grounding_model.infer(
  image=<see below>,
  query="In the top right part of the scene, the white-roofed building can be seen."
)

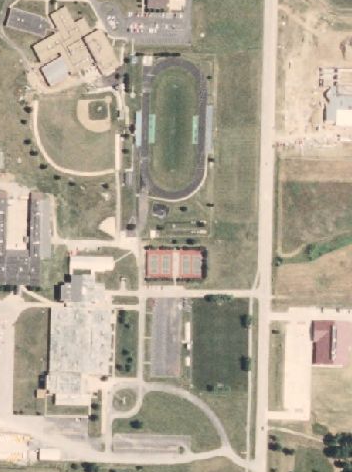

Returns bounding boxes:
[319,68,352,127]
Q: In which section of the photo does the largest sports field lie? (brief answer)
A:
top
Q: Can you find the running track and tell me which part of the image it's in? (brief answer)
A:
top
